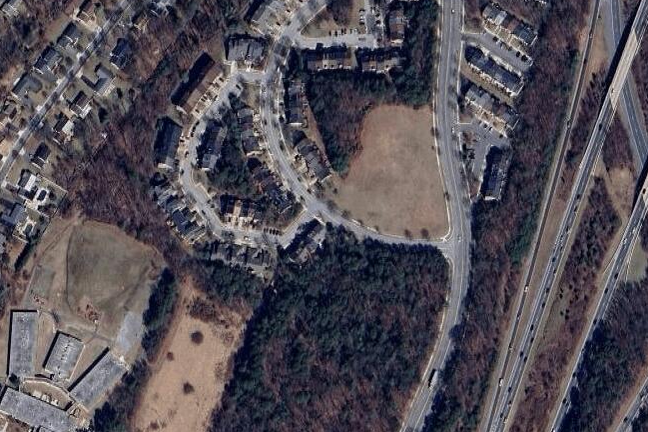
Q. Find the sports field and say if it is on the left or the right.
left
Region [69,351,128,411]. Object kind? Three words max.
building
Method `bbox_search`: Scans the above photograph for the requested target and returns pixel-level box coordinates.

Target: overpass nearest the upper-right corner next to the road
[607,28,642,111]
